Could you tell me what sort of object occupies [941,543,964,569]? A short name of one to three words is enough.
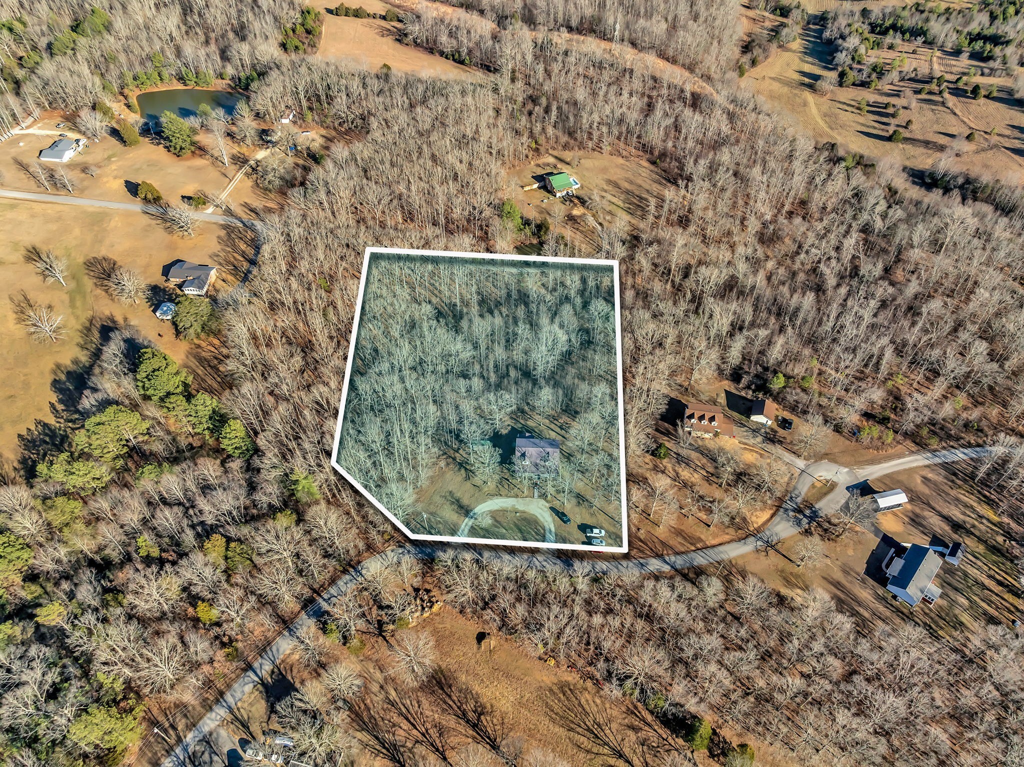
shed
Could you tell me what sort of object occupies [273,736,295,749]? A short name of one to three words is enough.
vehicle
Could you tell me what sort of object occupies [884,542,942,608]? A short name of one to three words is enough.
house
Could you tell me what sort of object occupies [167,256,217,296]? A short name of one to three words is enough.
house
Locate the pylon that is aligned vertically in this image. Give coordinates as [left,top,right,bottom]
[611,25,624,58]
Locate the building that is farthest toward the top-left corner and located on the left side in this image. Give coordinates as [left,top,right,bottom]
[33,137,83,166]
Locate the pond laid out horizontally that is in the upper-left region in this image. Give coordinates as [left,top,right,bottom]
[137,92,251,140]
